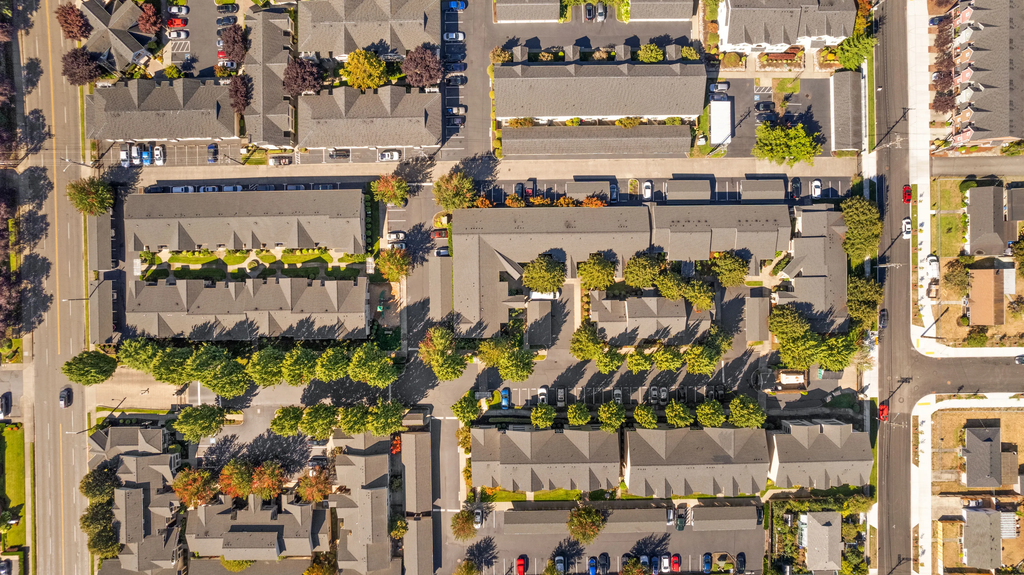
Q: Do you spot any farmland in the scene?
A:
No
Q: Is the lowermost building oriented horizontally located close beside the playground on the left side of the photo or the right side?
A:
left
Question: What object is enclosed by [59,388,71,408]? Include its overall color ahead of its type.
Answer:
gray vehicle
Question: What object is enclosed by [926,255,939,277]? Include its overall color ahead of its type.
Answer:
white vehicle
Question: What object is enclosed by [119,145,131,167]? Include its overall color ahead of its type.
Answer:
gray vehicle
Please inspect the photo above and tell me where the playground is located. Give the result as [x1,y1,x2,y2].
[369,283,400,327]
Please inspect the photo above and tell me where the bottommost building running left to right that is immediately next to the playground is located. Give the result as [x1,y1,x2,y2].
[123,277,370,340]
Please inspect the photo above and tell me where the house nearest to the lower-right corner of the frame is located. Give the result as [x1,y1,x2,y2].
[958,508,1002,571]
